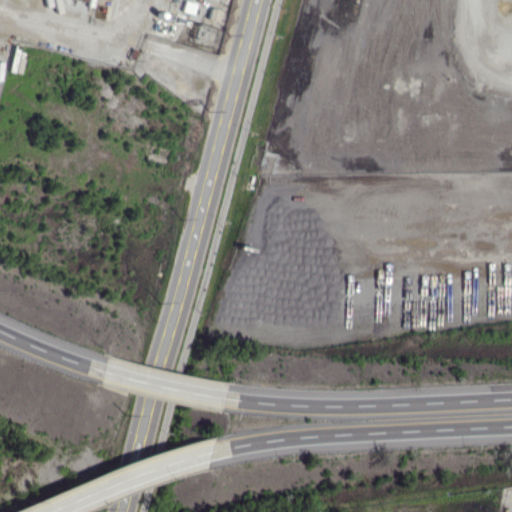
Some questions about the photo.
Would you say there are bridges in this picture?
Yes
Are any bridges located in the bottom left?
Yes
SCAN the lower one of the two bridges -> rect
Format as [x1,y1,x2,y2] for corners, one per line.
[22,437,218,512]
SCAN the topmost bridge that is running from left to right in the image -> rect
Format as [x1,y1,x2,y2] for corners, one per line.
[100,358,233,415]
